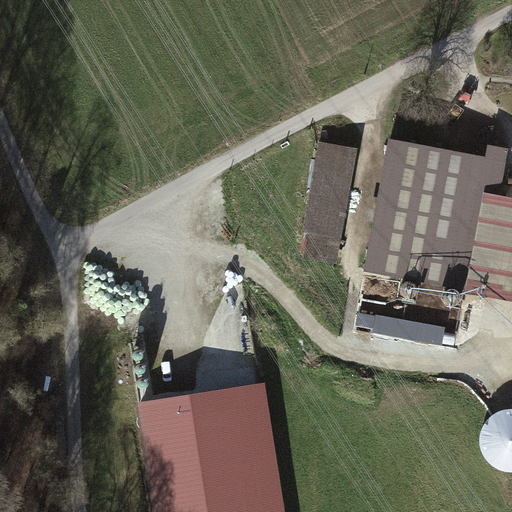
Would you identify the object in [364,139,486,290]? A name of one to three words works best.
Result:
barn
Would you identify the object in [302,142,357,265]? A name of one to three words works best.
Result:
shed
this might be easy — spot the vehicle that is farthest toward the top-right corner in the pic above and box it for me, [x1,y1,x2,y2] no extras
[458,76,478,106]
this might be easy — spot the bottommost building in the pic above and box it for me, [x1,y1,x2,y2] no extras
[138,384,286,512]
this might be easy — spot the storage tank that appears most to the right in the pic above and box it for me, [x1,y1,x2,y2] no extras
[480,410,512,473]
